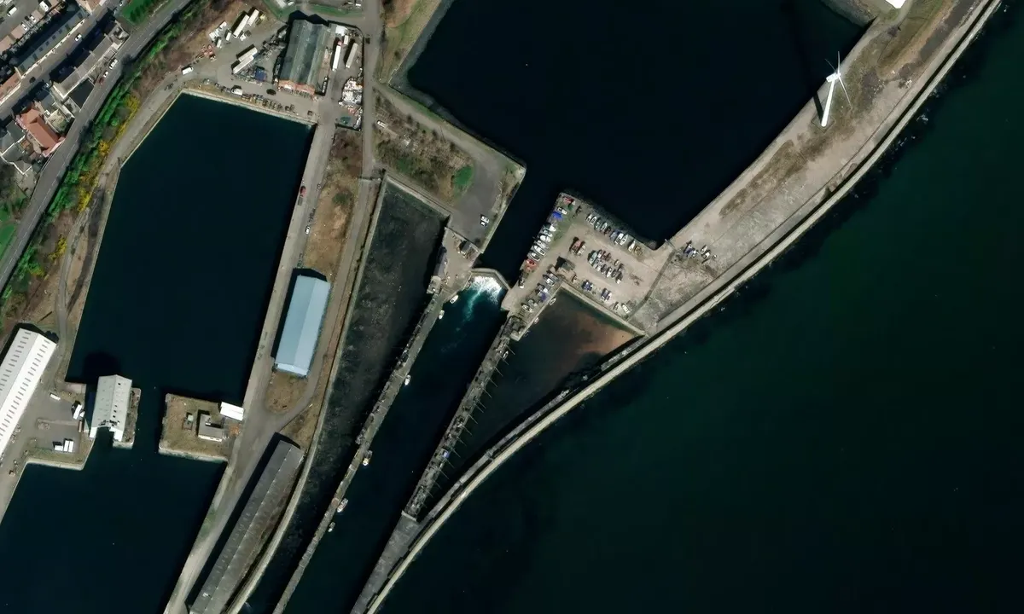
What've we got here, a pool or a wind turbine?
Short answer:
wind turbine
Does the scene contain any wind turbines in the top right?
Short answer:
Yes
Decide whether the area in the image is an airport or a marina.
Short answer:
marina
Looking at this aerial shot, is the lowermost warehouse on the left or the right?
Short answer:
left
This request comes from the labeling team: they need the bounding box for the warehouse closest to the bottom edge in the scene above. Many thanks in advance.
[187,440,305,614]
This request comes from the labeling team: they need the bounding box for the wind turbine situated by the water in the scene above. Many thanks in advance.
[819,59,852,129]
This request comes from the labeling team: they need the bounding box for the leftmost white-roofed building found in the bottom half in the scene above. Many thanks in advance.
[0,328,58,465]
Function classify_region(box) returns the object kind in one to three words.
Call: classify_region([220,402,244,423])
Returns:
shed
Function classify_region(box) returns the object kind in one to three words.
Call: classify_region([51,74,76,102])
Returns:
house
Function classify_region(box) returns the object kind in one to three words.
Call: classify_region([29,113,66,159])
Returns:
building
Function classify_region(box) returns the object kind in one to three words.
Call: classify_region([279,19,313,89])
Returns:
shed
